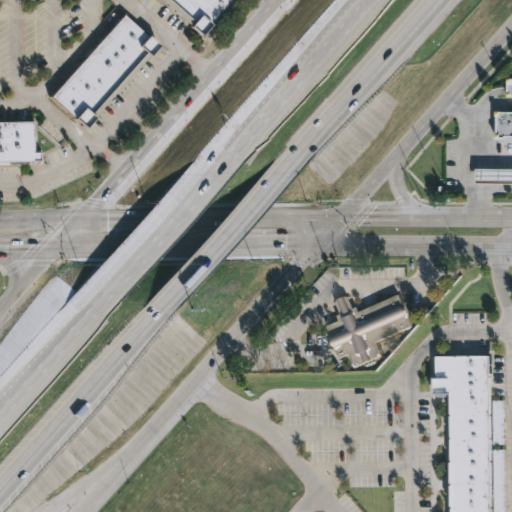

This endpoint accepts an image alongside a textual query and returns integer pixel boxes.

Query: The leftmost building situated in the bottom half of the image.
[326,296,411,369]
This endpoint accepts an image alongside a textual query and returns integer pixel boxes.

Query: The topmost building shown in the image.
[170,0,230,38]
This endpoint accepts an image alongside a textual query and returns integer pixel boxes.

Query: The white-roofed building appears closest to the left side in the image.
[0,122,42,166]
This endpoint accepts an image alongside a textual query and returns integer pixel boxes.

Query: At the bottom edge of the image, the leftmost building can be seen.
[430,356,490,512]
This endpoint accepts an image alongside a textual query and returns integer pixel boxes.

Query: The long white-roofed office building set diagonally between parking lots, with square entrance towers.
[54,14,158,130]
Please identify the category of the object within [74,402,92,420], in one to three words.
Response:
vehicle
